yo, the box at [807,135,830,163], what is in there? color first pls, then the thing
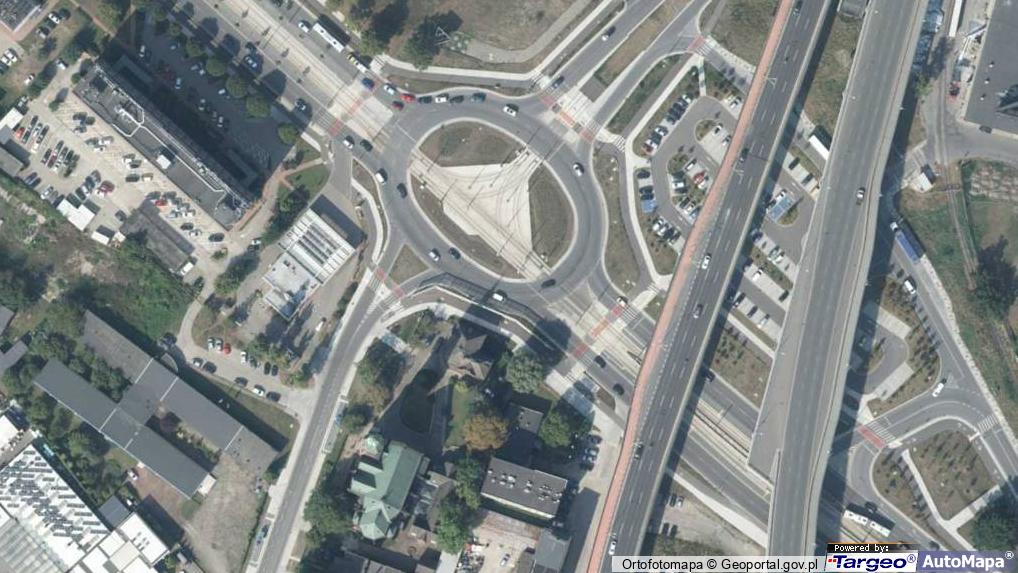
white truck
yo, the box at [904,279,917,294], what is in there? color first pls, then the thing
white vehicle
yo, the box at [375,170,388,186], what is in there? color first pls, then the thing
white vehicle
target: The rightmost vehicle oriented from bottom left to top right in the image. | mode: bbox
[932,382,944,398]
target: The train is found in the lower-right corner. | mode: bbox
[842,510,891,537]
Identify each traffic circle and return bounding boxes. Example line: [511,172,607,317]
[350,71,606,338]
